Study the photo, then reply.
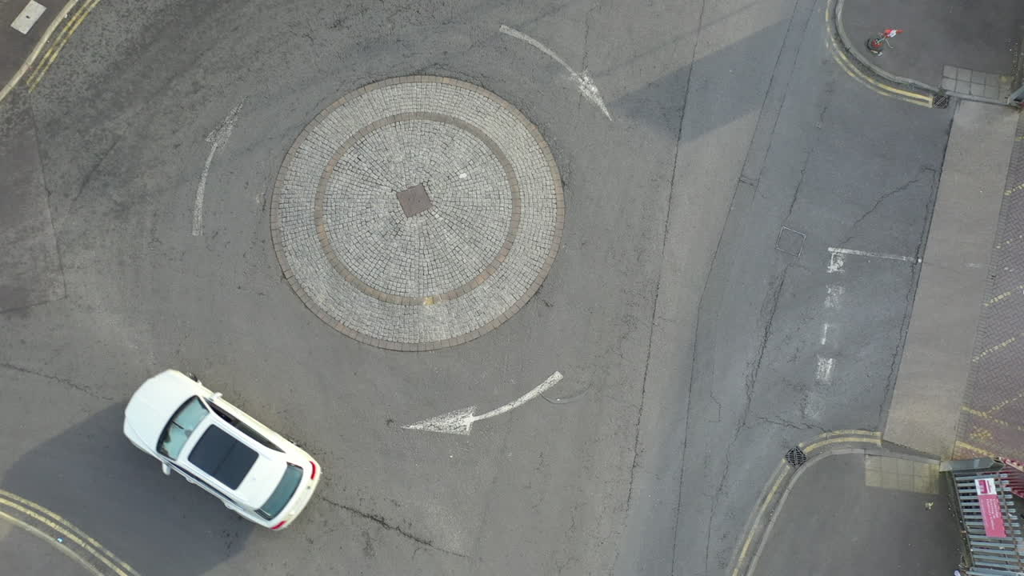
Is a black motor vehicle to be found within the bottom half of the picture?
No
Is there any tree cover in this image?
No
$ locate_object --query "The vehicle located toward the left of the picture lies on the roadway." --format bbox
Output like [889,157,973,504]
[124,370,325,532]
